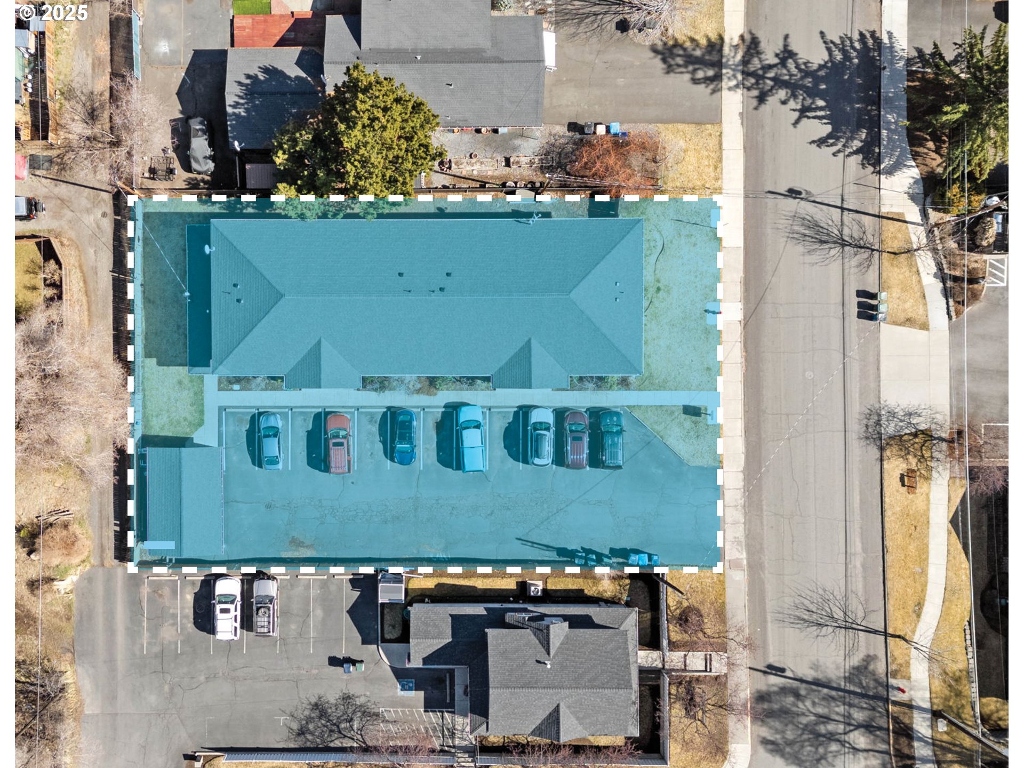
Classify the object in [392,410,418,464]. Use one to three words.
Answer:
car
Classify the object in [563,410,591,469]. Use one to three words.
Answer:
car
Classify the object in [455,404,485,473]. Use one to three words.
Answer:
truck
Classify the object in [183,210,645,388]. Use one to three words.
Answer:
building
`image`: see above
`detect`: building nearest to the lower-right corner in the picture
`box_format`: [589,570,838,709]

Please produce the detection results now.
[408,600,640,743]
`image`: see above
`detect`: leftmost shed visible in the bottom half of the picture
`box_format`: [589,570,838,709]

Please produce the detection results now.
[146,447,228,558]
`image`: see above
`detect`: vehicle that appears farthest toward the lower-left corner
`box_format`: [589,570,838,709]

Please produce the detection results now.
[212,577,243,641]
